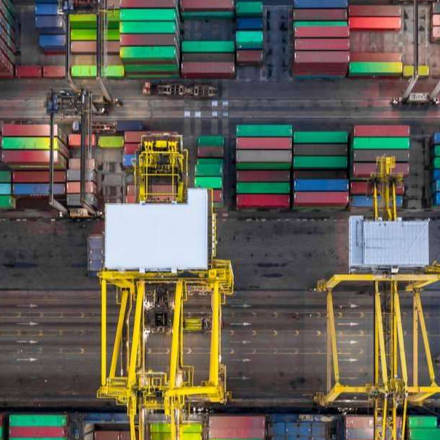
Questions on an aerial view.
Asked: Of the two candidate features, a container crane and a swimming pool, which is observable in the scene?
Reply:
container crane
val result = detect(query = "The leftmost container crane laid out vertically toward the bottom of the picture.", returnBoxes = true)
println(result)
[96,127,244,440]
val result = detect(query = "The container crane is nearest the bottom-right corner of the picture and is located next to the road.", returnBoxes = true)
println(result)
[306,152,440,440]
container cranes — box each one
[96,127,244,440]
[392,0,440,105]
[306,152,440,440]
[40,88,108,215]
[57,0,123,105]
